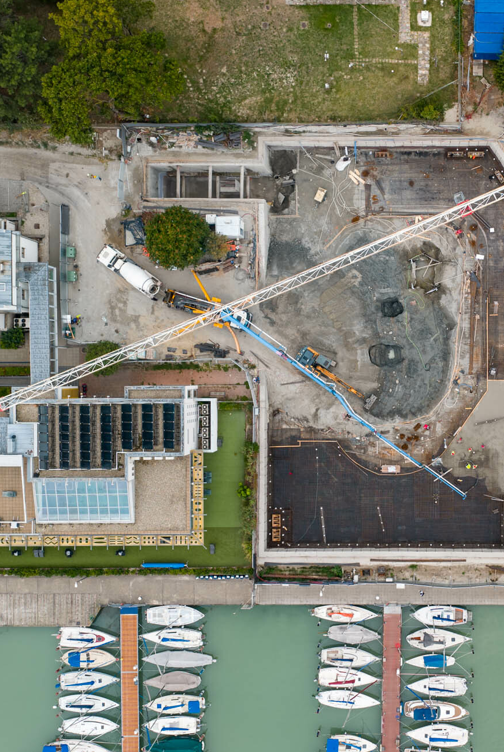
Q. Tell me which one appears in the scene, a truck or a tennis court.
truck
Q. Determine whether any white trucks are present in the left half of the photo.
Yes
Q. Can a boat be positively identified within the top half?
No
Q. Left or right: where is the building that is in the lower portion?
left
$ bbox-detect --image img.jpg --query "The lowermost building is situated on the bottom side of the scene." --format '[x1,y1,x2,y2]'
[0,386,220,551]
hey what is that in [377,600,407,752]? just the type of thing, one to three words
pier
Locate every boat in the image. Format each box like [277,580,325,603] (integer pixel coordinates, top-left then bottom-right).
[140,735,207,752]
[324,622,380,655]
[141,668,203,705]
[61,648,120,683]
[60,713,120,752]
[57,627,120,661]
[306,605,380,632]
[140,713,205,752]
[406,673,467,712]
[55,691,121,731]
[57,668,121,706]
[143,606,206,632]
[321,646,381,680]
[410,606,470,633]
[318,666,380,702]
[43,736,119,752]
[403,721,467,752]
[406,625,473,662]
[141,692,207,731]
[139,625,207,659]
[140,648,215,683]
[325,730,377,752]
[317,686,380,729]
[401,696,470,722]
[406,653,455,677]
